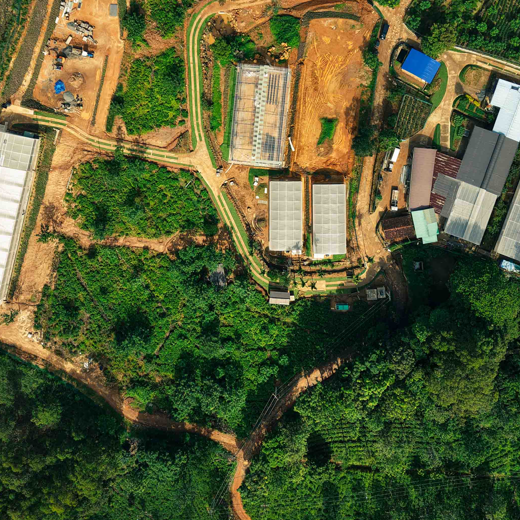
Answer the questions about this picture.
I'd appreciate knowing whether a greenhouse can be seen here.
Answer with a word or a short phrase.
Yes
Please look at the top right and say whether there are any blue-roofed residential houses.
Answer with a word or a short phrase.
Yes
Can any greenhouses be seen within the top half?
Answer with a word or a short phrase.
Yes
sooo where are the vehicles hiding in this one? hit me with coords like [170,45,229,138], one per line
[391,189,399,211]
[381,24,389,40]
[71,48,95,57]
[55,56,69,63]
[388,148,401,170]
[52,64,64,70]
